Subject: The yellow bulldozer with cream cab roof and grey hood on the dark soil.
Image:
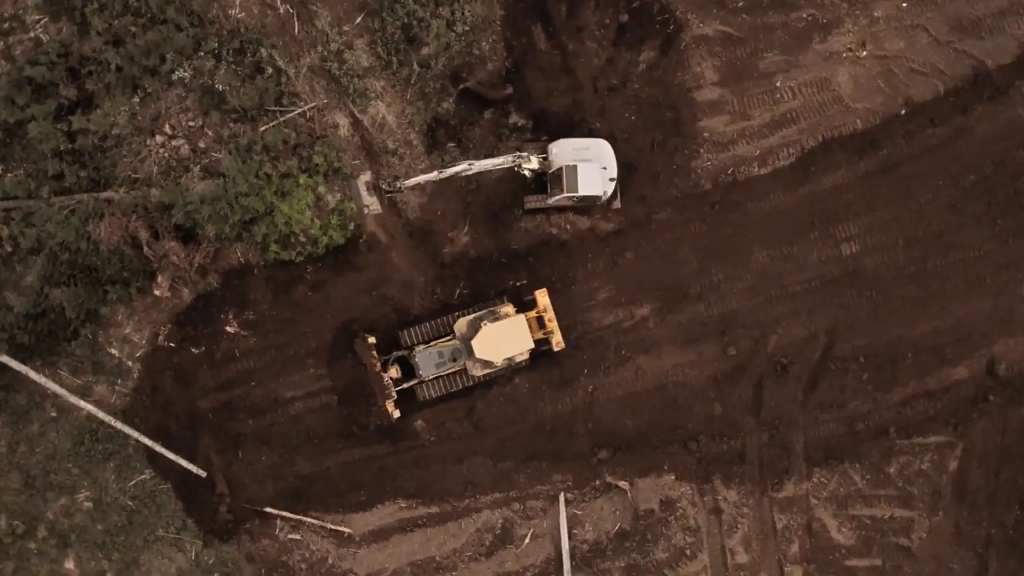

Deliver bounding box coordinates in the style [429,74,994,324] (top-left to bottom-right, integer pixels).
[356,289,565,422]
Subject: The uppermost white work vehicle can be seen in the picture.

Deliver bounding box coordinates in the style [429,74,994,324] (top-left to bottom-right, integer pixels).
[358,138,620,215]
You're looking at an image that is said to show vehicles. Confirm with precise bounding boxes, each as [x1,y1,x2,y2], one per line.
[356,289,565,422]
[358,138,620,215]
